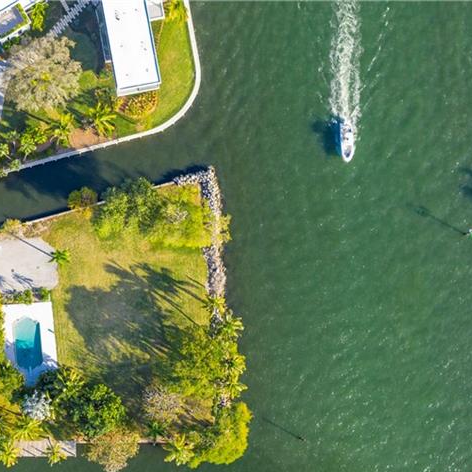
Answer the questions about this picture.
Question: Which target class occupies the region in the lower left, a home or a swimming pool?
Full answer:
Looking in the lower left, you will find a swimming pool.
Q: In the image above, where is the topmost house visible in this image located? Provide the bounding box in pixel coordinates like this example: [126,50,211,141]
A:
[0,0,54,46]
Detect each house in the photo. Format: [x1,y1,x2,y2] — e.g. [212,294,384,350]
[99,0,164,102]
[0,0,54,46]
